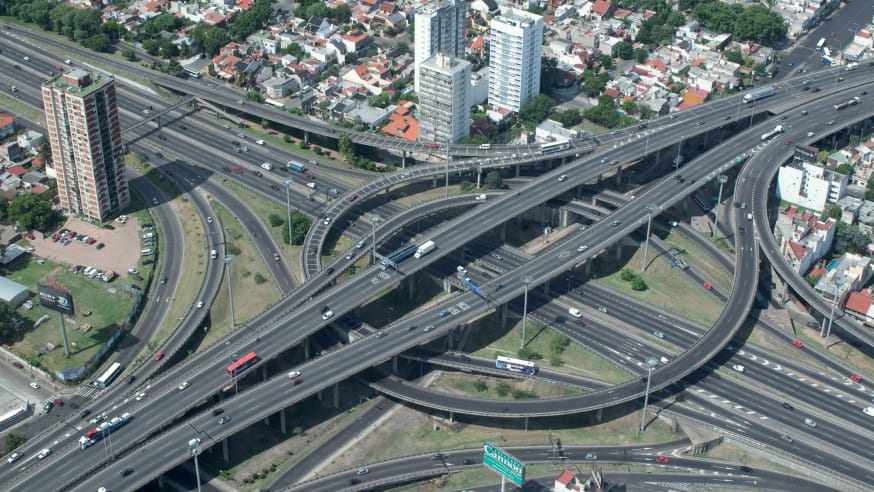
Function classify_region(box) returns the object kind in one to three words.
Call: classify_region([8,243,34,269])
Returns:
shed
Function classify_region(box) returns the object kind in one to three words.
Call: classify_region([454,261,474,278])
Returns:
vehicle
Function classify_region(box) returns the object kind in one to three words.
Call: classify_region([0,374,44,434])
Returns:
building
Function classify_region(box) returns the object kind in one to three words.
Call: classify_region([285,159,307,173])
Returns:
vehicle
